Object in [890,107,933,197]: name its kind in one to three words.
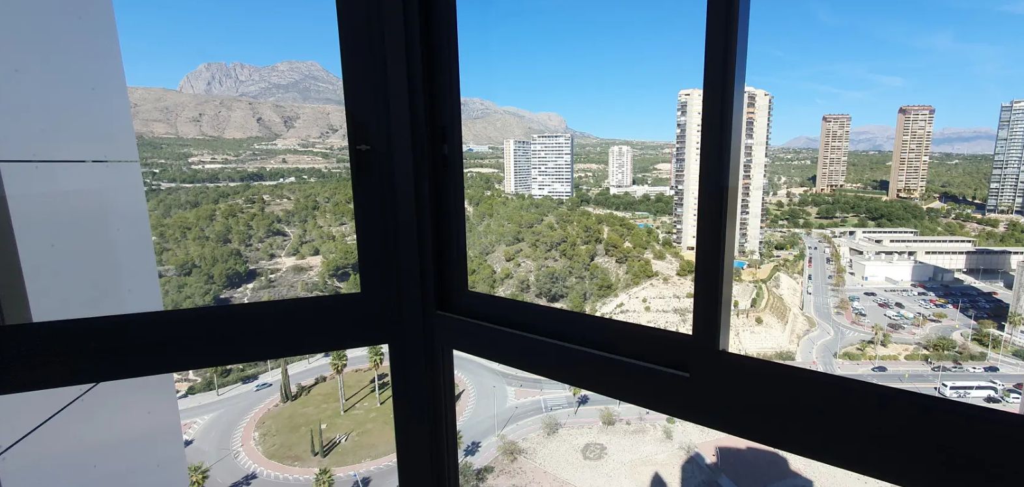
building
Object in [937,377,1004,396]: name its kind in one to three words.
vehicle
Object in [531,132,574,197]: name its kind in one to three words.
building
